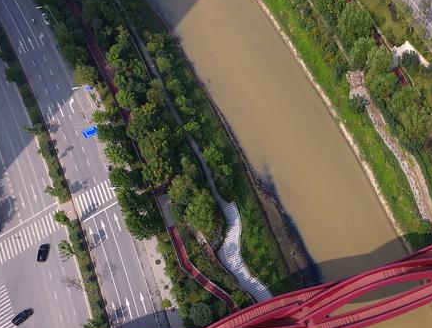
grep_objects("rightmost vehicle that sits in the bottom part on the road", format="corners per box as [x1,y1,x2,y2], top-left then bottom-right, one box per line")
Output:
[38,244,50,262]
